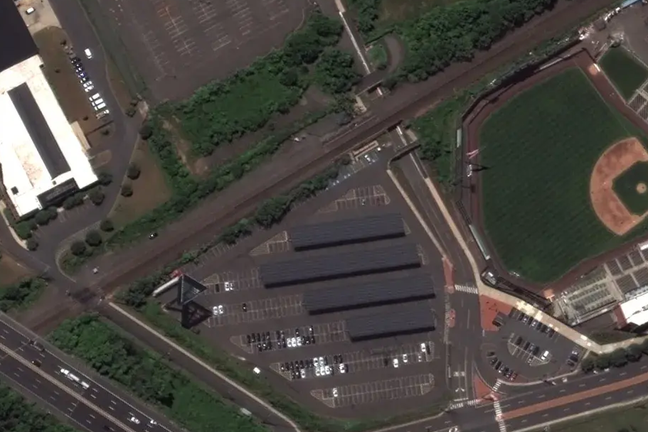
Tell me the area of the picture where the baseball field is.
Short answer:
right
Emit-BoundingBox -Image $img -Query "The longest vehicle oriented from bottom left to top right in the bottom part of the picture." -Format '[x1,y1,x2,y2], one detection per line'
[153,277,179,294]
